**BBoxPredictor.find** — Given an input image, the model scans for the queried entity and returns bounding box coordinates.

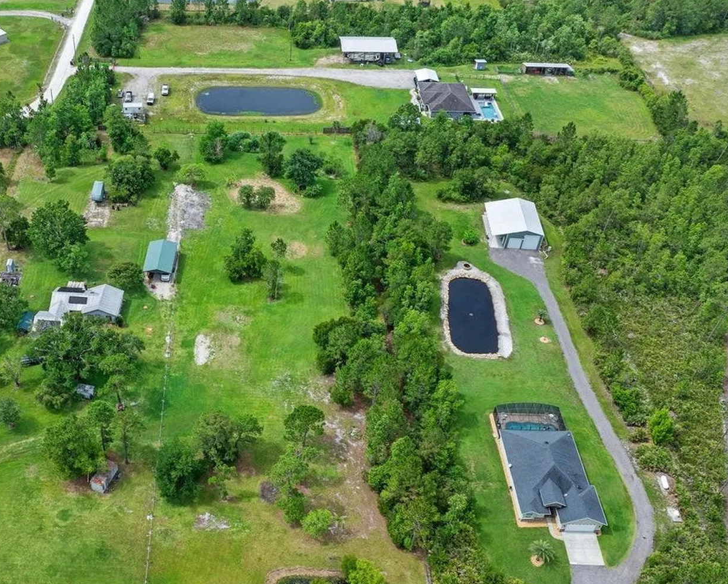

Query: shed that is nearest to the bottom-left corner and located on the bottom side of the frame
[90,461,120,493]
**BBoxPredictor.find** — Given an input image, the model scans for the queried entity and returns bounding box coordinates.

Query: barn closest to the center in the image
[474,193,546,254]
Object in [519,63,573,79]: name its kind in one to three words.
building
